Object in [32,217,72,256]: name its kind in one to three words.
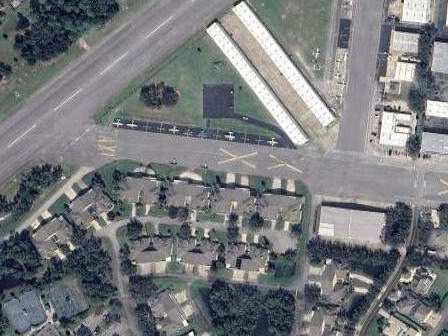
house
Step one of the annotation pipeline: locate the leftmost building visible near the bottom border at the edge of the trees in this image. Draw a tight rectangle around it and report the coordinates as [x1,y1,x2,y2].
[151,288,192,331]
